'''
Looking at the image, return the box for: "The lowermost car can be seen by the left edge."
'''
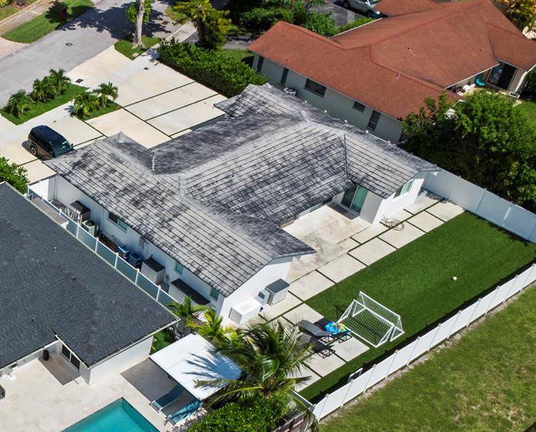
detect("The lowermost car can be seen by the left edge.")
[27,122,80,161]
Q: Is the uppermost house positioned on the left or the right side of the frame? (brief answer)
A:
right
